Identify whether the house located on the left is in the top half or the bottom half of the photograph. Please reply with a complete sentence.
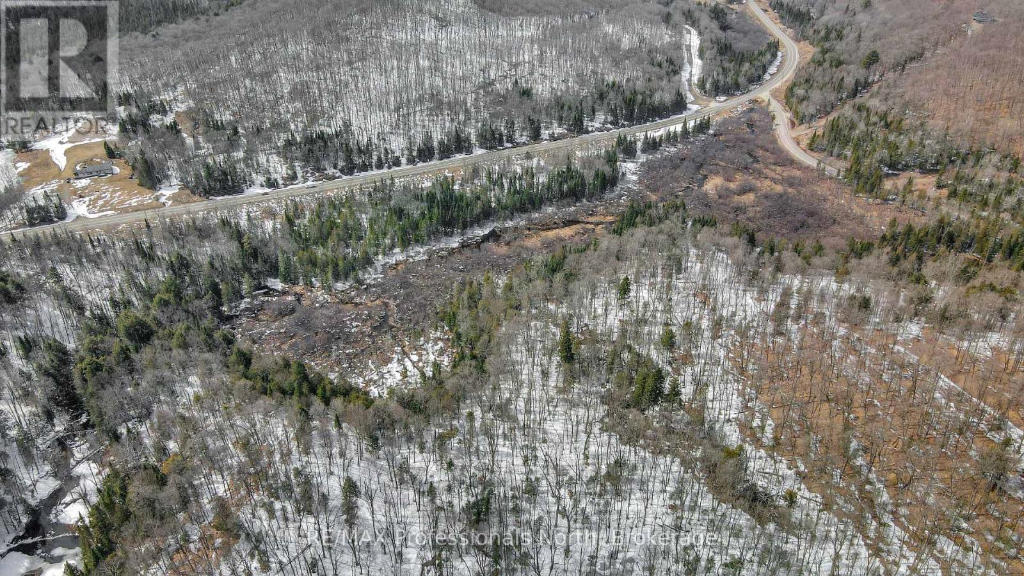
It is in the top half that the house located on the left appears.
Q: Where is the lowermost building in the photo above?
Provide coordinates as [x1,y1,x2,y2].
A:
[71,158,110,178]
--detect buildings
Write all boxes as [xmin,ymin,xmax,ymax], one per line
[71,158,110,178]
[969,10,995,23]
